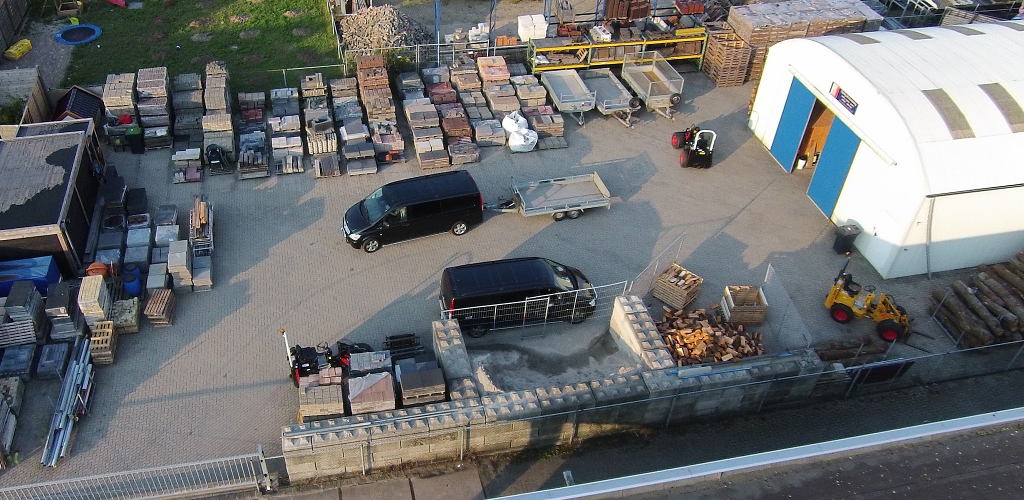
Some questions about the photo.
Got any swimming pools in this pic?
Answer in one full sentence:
No, there isn't any swimming pool down there.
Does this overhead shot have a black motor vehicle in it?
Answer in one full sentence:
Yes, there's a black motor vehicle down there.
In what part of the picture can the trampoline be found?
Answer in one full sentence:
The trampoline appears toward the top left of the photo.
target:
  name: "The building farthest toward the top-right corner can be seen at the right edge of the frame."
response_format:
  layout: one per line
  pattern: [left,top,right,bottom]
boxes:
[743,26,1024,280]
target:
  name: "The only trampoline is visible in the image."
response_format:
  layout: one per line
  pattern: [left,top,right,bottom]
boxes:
[55,25,101,48]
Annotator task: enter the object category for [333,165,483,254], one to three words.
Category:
van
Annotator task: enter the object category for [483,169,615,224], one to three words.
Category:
trailer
